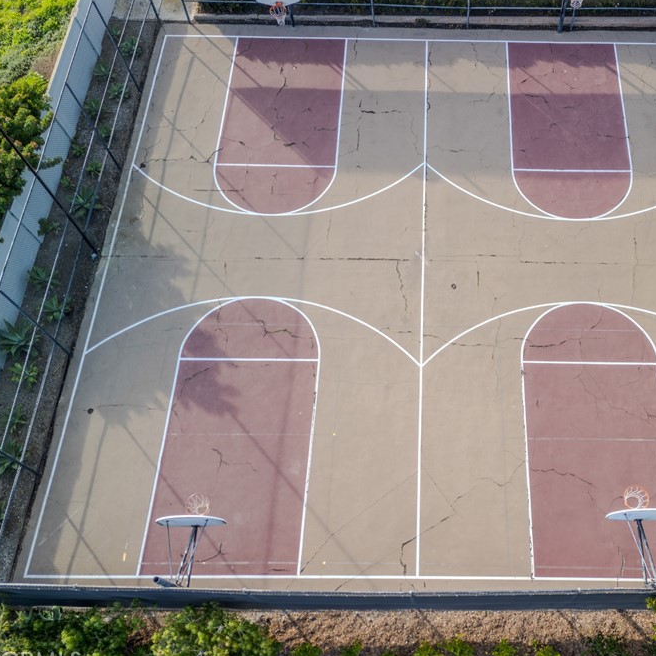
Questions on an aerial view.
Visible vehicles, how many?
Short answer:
0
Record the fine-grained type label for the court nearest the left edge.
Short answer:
basketball court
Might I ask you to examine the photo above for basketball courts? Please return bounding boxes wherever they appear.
[416,28,656,597]
[4,23,428,596]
